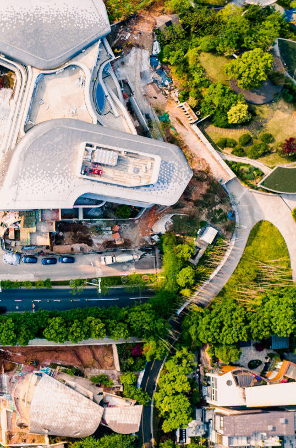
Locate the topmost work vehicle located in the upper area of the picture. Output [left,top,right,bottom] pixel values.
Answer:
[113,40,133,54]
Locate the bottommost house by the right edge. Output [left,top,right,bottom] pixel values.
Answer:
[204,404,295,447]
